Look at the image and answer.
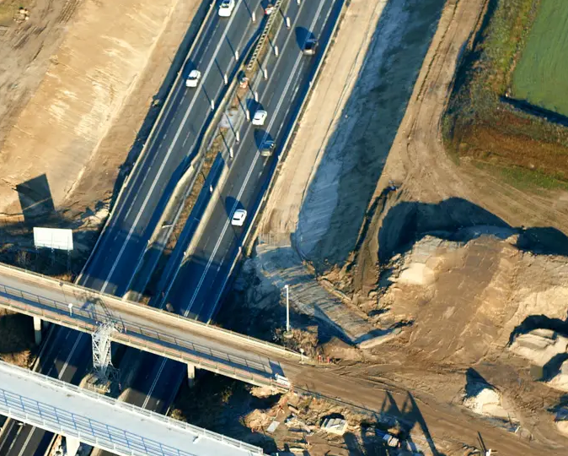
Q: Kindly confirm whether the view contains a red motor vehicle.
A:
No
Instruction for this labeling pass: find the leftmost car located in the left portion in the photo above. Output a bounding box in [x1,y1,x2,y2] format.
[187,69,202,88]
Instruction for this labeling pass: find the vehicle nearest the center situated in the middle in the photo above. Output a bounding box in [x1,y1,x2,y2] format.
[229,208,247,229]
